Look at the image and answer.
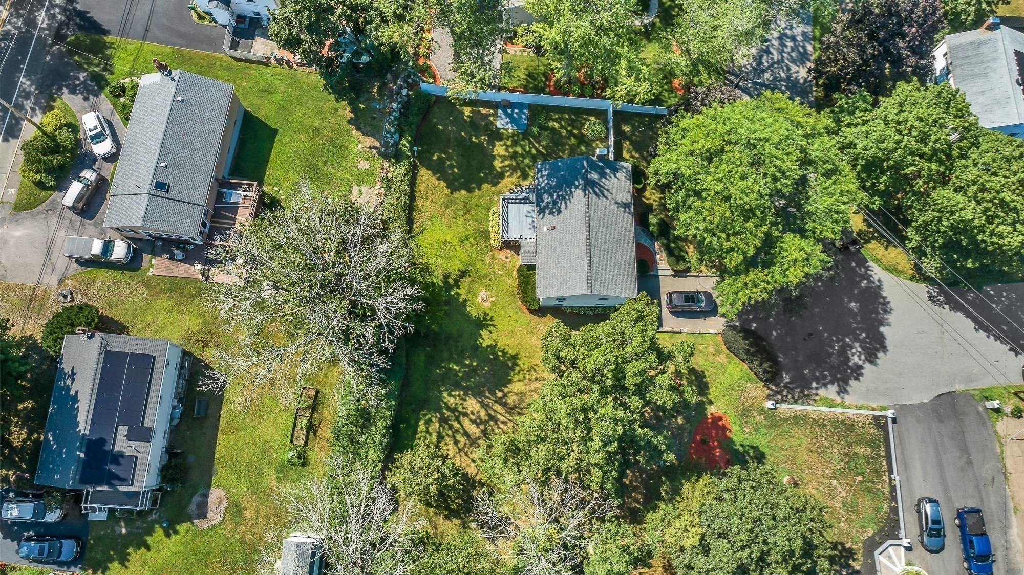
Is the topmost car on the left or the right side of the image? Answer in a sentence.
It is on the left.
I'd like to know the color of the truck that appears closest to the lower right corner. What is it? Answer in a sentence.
From above, the truck that appears closest to the lower right corner appears blue.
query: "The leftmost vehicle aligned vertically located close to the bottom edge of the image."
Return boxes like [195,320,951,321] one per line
[913,495,947,553]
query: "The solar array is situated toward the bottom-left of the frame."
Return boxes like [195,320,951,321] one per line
[82,351,156,486]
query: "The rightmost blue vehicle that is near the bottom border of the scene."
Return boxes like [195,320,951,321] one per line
[953,506,995,575]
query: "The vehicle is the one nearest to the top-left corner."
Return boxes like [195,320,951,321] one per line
[83,112,119,159]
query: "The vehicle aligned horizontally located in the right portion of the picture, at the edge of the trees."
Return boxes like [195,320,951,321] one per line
[663,289,714,313]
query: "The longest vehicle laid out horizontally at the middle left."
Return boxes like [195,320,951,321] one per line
[66,237,132,263]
